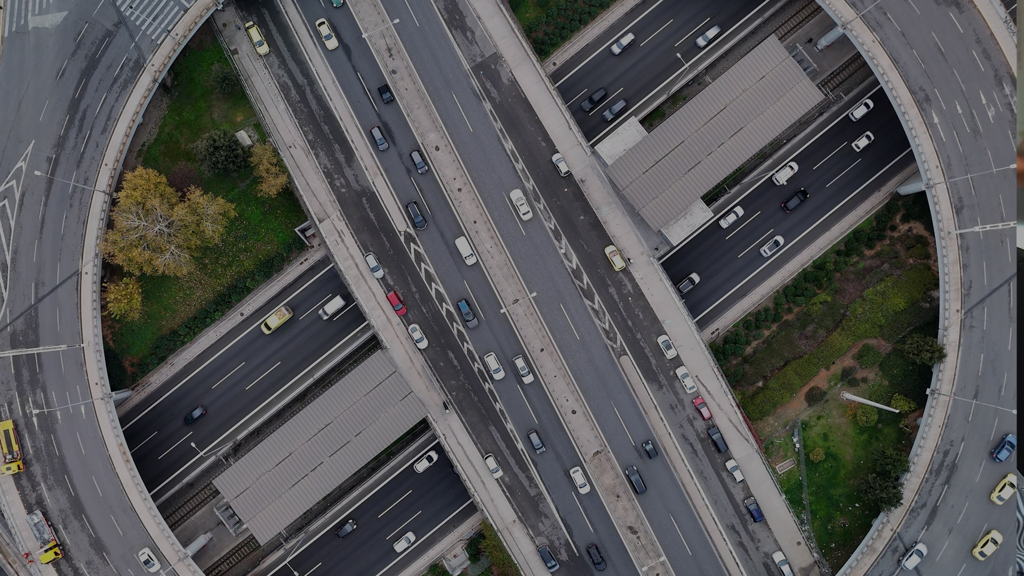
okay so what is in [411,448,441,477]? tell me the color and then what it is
white car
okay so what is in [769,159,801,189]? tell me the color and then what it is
white car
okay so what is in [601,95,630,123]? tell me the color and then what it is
gray car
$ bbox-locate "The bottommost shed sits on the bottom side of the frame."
[443,545,471,576]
